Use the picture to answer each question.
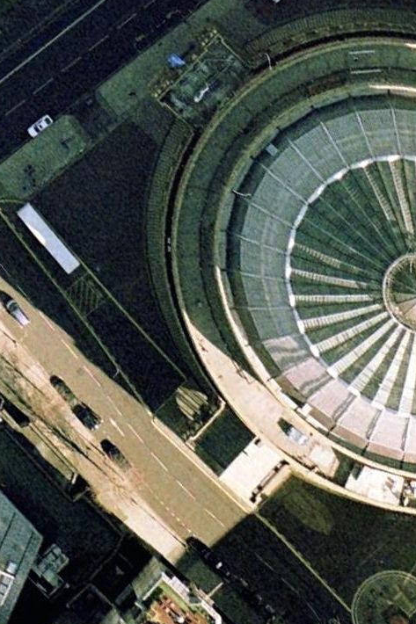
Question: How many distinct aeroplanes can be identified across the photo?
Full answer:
The picture shows no aeroplanes.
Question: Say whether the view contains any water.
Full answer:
No, there is no water in the image.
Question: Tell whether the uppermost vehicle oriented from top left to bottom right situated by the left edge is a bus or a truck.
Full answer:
Looking closely, the uppermost vehicle oriented from top left to bottom right situated by the left edge is a bus.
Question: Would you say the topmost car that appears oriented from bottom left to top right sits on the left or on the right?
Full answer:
The topmost car that appears oriented from bottom left to top right appears in the left half of the scene.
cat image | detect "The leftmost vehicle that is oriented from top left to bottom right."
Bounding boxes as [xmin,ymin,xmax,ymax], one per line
[5,297,30,326]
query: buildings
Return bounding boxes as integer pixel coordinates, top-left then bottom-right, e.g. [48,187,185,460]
[152,18,416,517]
[121,549,231,624]
[0,488,42,624]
